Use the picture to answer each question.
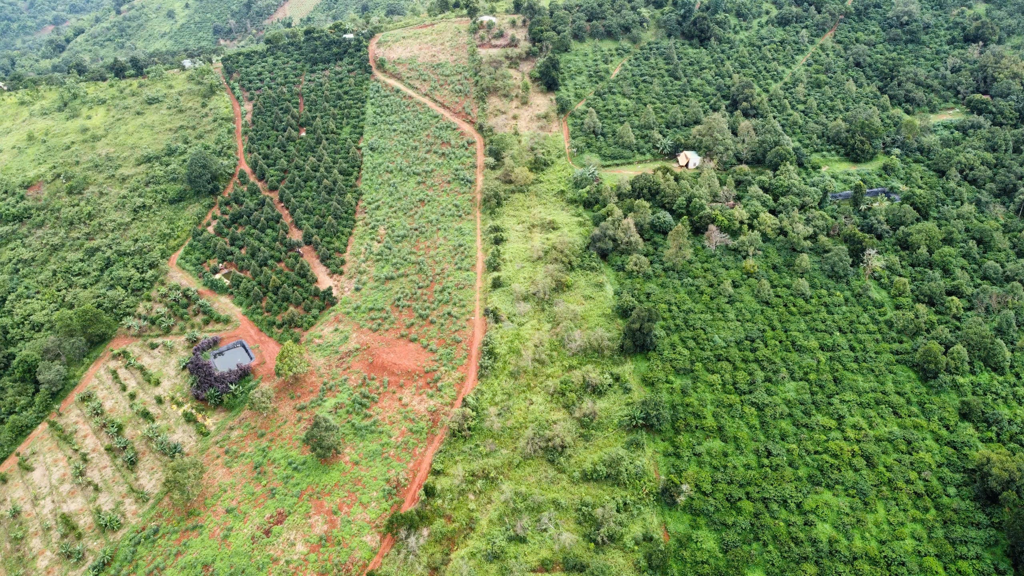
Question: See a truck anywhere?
No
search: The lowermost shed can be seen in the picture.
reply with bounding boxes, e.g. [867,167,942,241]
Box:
[671,150,702,174]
